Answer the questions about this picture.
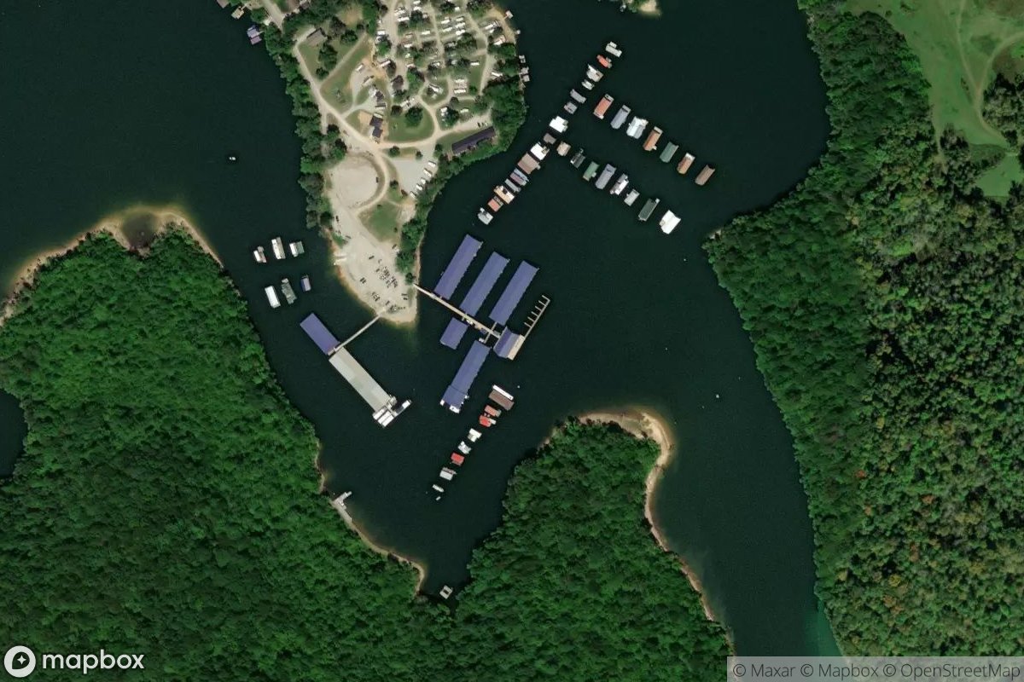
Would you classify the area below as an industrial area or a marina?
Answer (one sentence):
This looks like a marina.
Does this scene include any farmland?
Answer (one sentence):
No, the scene doesn't show any farmland.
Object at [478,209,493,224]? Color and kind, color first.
white boat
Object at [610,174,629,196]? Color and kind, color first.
white boat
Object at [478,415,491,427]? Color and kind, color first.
red boat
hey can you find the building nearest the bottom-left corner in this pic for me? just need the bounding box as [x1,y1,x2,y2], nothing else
[493,327,525,361]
